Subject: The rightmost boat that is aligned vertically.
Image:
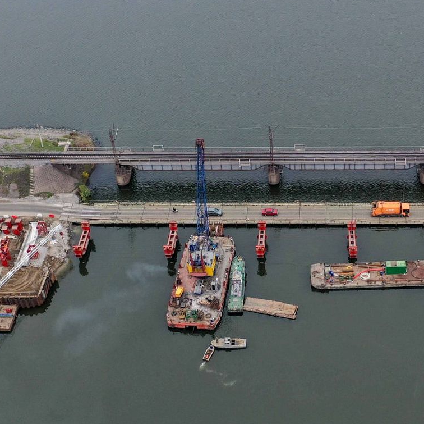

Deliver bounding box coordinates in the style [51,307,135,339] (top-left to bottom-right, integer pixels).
[225,255,245,314]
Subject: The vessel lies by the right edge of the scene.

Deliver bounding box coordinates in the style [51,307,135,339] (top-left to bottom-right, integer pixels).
[310,259,424,289]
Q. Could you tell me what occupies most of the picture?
water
